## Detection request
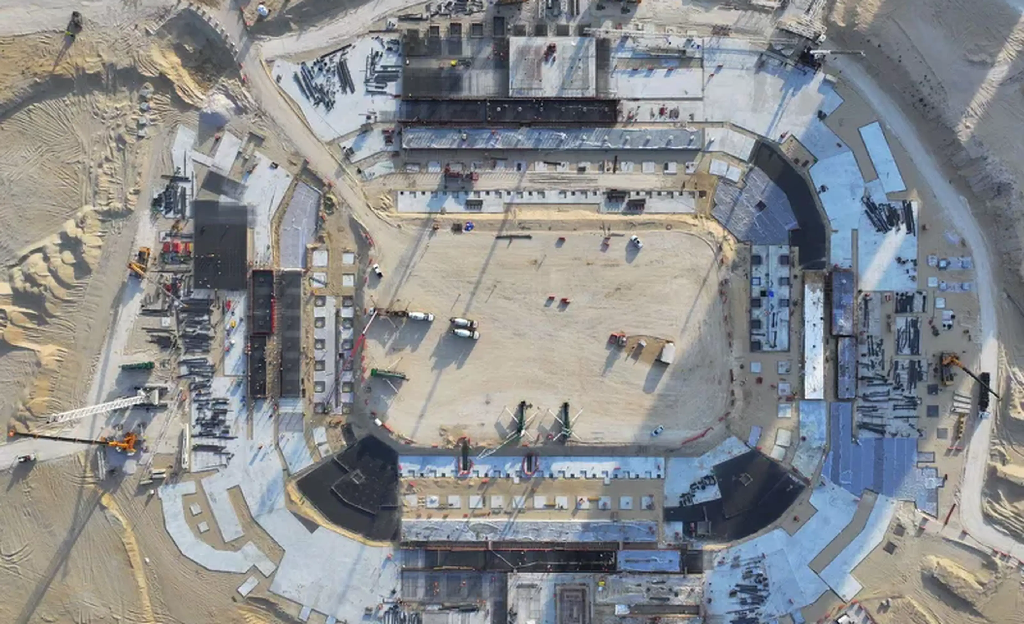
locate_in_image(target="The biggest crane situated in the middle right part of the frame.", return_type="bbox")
[934,351,1002,400]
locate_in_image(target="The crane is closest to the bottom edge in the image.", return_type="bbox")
[7,428,140,458]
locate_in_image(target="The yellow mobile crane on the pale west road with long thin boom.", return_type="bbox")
[120,240,194,311]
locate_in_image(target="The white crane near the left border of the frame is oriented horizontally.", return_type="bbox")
[46,385,171,423]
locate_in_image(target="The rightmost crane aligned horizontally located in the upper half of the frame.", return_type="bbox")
[792,39,868,74]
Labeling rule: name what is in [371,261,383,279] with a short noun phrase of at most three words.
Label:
vehicle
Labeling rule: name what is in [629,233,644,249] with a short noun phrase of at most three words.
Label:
car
